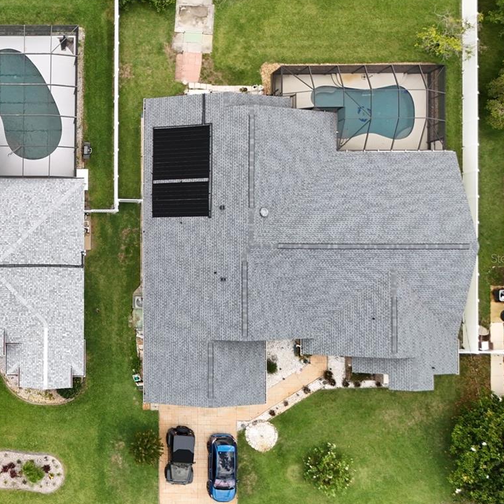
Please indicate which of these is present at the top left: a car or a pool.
pool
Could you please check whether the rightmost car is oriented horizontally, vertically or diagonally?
vertically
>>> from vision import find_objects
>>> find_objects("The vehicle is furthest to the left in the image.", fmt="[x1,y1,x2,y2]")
[165,422,201,483]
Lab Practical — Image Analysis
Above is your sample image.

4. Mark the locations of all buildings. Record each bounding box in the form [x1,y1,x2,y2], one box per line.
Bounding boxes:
[141,90,480,410]
[0,177,87,390]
